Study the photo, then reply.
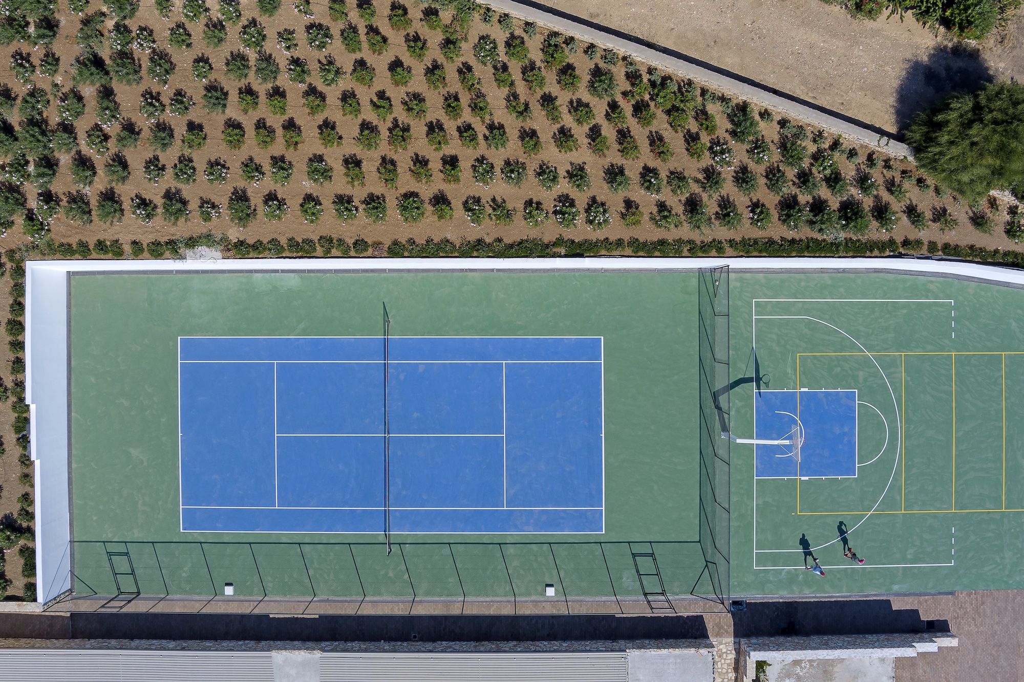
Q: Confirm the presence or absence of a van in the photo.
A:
No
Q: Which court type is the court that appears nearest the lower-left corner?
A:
tennis court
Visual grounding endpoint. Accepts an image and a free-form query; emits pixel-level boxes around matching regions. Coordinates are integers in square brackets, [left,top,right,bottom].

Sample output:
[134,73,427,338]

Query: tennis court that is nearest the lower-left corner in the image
[70,273,715,597]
